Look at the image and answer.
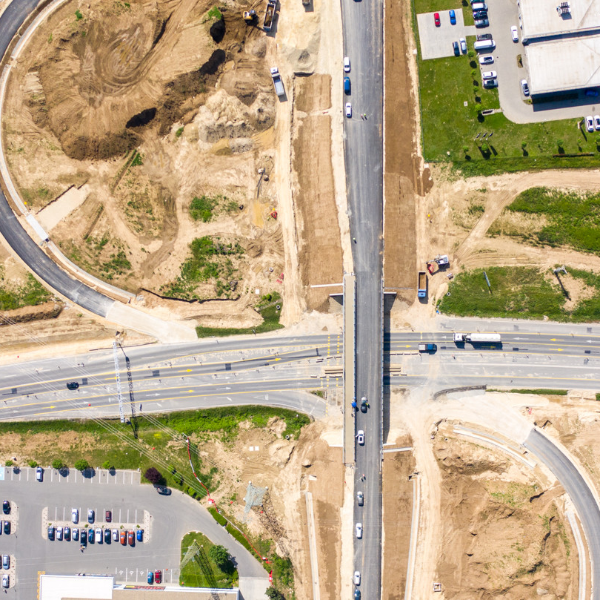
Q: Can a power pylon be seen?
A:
Yes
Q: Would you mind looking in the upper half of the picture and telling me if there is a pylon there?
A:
No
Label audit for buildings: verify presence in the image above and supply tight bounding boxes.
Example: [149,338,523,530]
[514,0,600,100]
[39,575,240,600]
